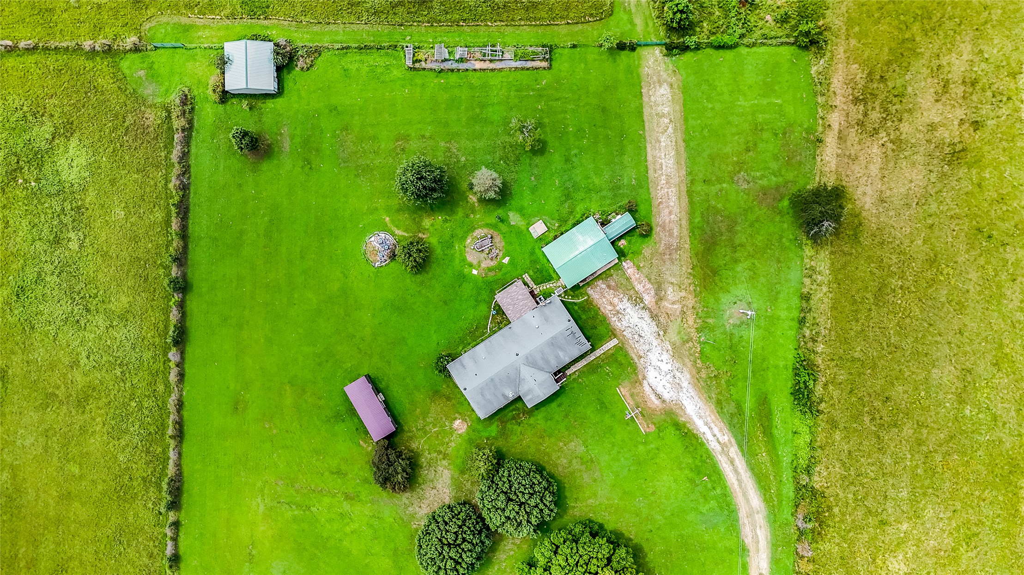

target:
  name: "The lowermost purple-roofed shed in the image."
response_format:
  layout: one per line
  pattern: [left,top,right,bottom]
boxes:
[343,376,399,442]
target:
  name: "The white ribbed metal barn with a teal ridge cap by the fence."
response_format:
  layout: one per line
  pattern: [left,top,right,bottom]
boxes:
[224,39,278,93]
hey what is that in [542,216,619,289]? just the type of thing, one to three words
building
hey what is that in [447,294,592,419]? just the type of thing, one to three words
house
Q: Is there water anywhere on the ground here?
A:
No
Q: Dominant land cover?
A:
grass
